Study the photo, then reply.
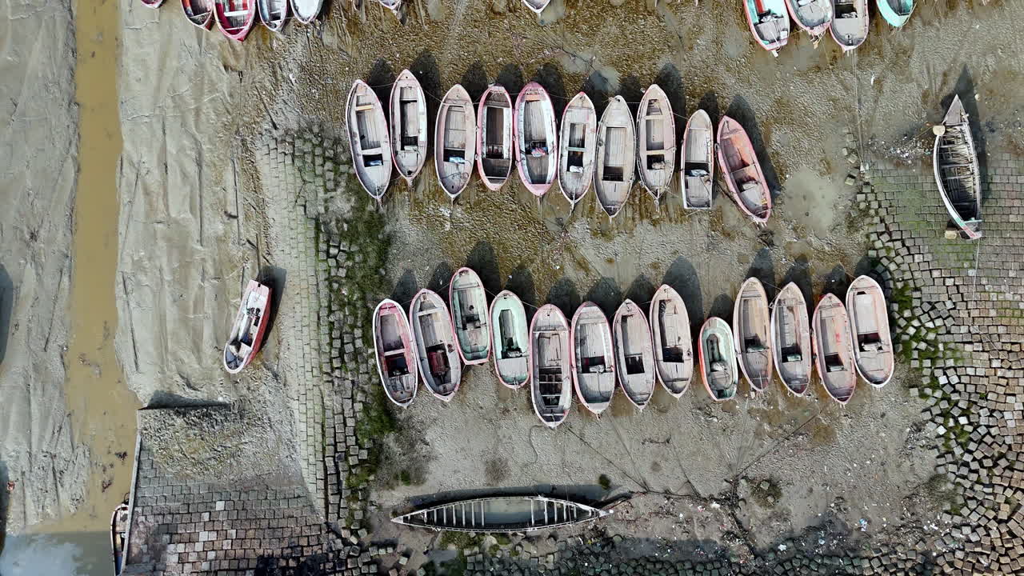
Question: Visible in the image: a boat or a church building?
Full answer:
The image shows a boat.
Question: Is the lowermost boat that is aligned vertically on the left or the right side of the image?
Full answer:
It is on the left.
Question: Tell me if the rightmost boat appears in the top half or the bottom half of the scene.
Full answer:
Seen from above, the rightmost boat lies in the top half of the view.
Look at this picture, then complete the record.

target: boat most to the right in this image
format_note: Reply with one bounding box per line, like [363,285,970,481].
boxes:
[936,94,987,234]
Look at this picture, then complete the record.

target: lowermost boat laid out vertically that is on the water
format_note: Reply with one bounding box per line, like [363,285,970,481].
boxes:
[107,500,128,576]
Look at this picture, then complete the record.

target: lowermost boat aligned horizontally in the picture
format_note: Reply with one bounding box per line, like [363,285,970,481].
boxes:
[393,493,609,535]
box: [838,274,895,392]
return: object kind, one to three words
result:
boat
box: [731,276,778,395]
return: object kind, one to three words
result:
boat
